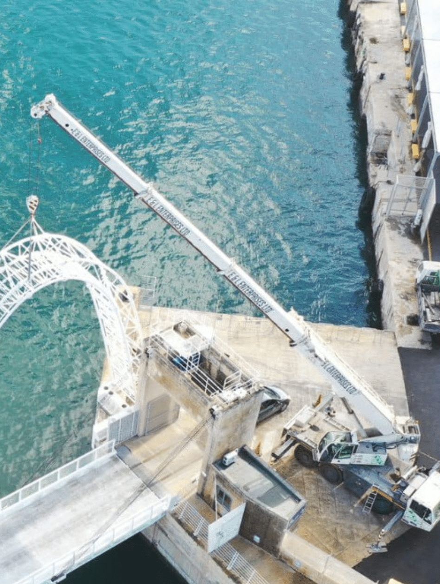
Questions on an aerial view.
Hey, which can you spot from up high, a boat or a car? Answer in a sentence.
Visible in the photo is a car.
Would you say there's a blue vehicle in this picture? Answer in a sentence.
No, no blue vehicle is visible in the scene.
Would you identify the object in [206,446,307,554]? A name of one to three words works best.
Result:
shed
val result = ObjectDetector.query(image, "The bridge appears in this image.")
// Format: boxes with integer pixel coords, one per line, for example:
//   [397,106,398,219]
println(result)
[0,440,169,584]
